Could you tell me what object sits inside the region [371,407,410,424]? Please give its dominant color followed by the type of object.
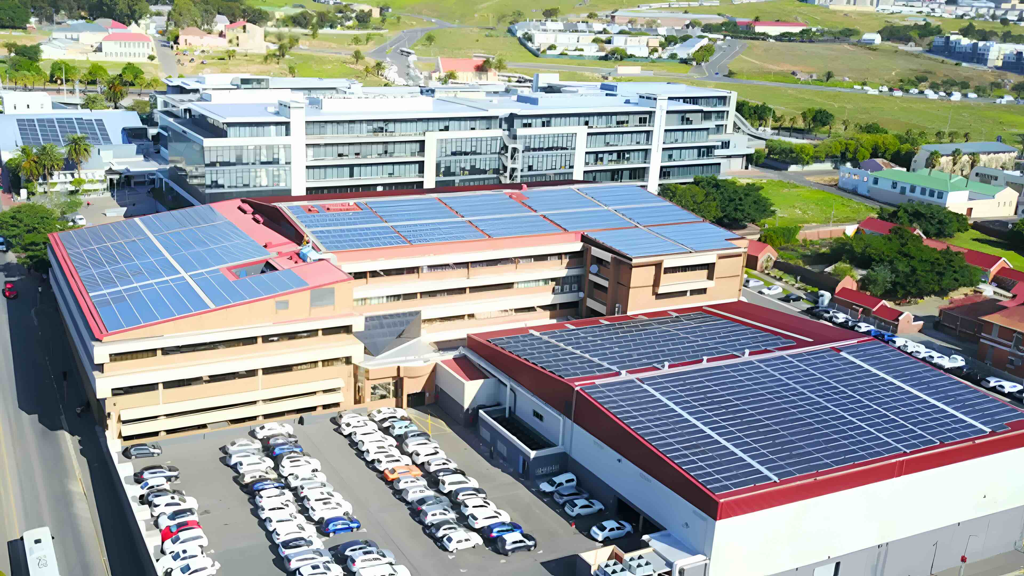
white car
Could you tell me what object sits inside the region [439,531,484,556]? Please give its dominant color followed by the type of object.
white car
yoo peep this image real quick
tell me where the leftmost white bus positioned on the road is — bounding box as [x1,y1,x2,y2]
[14,529,58,576]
